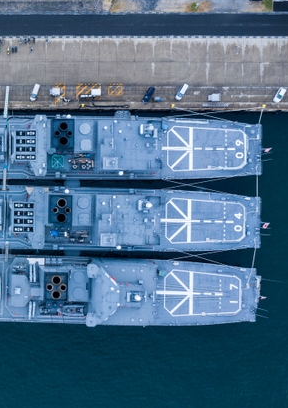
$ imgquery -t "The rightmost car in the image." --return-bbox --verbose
[274,86,288,102]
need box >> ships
[0,114,274,180]
[0,253,287,326]
[0,185,270,250]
